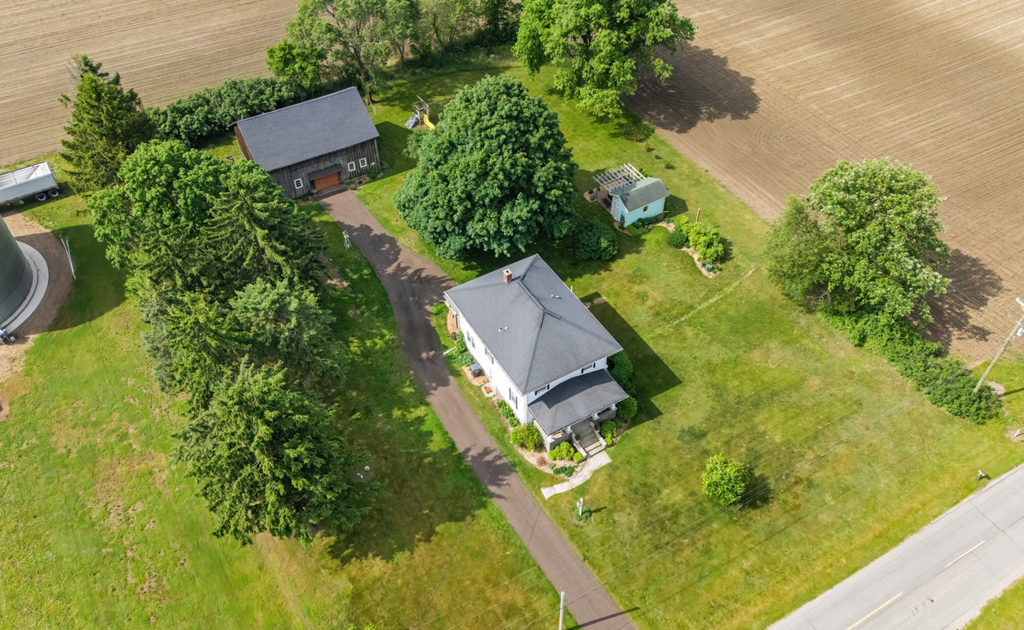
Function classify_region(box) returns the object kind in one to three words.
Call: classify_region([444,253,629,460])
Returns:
house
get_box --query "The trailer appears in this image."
[0,160,63,211]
